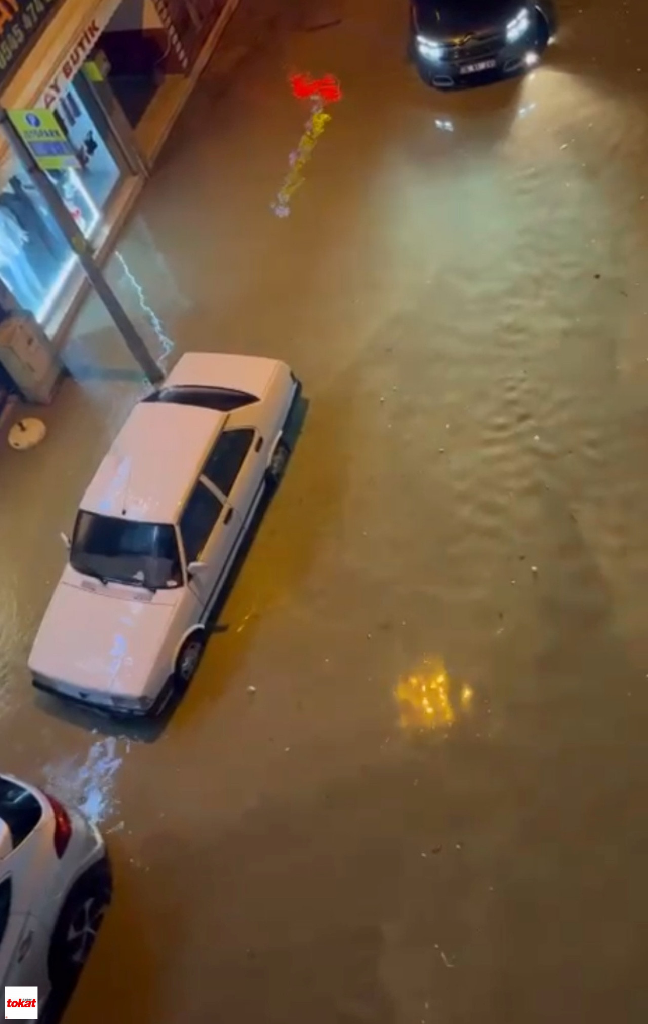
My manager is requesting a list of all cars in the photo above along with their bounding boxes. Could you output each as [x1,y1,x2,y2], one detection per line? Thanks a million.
[390,0,538,87]
[24,357,308,723]
[0,767,112,1024]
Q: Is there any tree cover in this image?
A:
No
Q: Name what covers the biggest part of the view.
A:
water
